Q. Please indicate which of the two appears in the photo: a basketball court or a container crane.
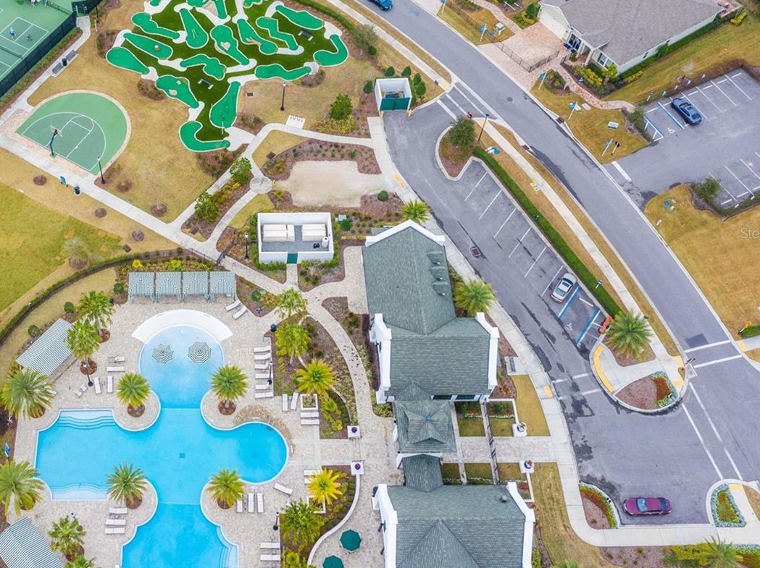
basketball court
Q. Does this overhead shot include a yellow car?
No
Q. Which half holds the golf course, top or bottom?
top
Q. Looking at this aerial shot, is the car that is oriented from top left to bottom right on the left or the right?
right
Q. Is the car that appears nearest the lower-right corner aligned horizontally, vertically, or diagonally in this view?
horizontally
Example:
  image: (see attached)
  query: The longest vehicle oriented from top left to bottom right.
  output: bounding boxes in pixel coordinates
[672,96,707,126]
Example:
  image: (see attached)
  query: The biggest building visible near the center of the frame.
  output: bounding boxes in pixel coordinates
[360,215,502,405]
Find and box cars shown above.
[624,496,677,518]
[550,270,581,304]
[373,0,395,10]
[672,96,707,126]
